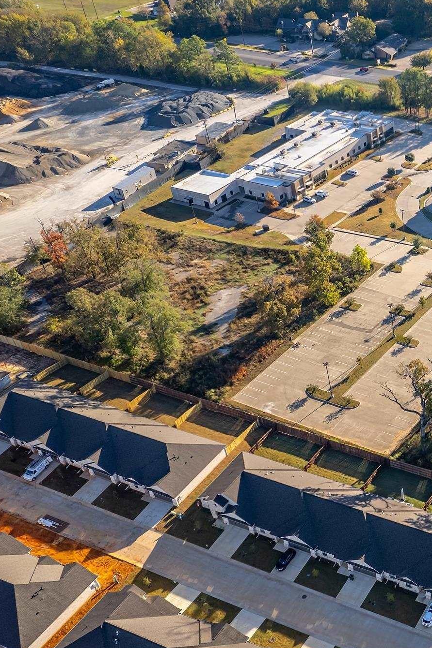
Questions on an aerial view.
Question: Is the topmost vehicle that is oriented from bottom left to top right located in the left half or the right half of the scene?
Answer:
left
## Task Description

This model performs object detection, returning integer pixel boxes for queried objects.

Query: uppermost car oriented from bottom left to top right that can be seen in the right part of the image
[273,549,299,571]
